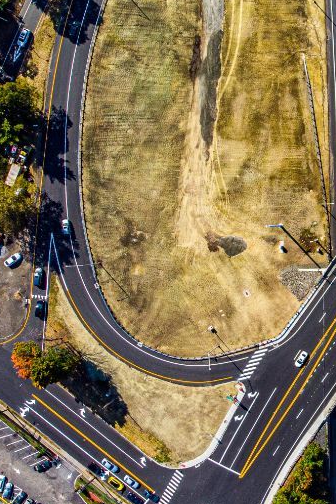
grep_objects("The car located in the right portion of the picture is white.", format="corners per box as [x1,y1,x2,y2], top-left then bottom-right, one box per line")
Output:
[293,351,307,367]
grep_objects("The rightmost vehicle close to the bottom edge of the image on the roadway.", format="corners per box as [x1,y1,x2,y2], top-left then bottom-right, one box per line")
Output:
[140,488,161,504]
